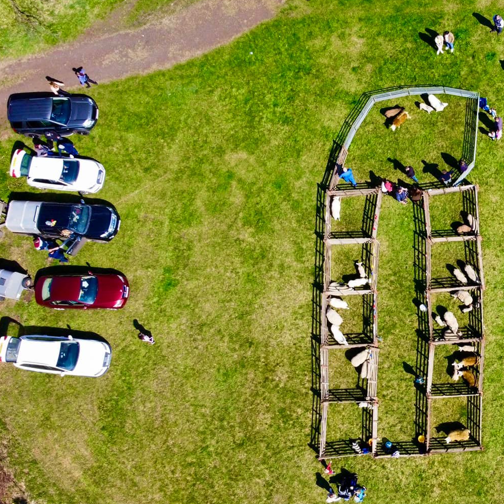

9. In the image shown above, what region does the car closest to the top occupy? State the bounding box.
[3,93,99,137]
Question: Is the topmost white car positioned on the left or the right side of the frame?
left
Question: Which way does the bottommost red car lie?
from side to side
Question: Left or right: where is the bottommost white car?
left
